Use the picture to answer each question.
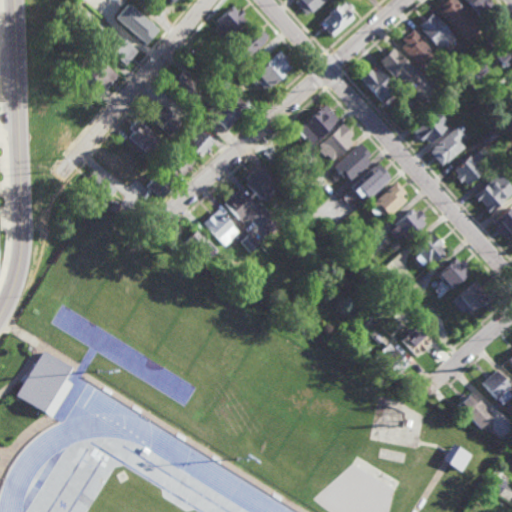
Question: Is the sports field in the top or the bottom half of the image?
bottom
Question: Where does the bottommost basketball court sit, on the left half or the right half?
right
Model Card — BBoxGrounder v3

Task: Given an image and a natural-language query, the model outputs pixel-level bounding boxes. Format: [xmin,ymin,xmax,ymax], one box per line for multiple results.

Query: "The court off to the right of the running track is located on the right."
[314,456,399,512]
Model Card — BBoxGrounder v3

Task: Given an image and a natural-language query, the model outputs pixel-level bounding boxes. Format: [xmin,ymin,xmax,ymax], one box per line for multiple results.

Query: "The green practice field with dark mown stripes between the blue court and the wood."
[65,262,372,505]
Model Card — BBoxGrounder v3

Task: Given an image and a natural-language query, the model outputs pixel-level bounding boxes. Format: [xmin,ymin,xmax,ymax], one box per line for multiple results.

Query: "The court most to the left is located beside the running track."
[52,306,196,406]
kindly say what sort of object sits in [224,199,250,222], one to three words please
building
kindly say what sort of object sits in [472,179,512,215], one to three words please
house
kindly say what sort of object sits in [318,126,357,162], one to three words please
house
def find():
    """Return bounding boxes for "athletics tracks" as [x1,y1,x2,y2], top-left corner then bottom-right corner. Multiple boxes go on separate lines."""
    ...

[0,374,298,512]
